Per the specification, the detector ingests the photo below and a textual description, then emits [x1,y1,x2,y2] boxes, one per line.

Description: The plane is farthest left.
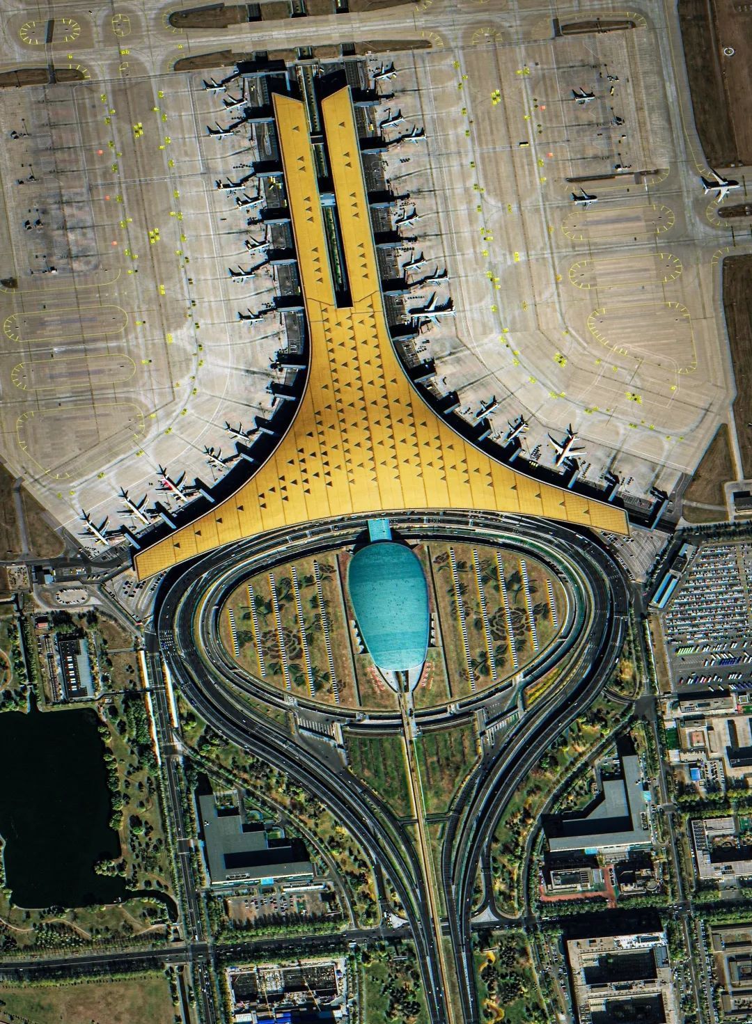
[78,515,109,546]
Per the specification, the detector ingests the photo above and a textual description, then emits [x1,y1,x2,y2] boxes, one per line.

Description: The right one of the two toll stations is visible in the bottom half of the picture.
[471,690,524,763]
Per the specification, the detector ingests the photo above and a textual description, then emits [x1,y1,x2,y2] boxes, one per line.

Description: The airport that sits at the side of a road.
[0,0,752,566]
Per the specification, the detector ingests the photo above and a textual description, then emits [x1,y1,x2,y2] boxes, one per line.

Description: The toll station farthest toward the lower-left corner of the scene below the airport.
[289,713,344,774]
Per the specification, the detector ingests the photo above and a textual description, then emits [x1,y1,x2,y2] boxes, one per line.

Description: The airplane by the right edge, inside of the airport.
[704,170,739,204]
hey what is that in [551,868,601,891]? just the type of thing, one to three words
building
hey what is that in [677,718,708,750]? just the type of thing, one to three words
building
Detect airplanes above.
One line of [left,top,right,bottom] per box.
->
[227,423,250,443]
[218,175,245,201]
[232,266,255,288]
[224,95,247,116]
[551,432,586,468]
[477,397,501,419]
[574,189,597,211]
[396,208,419,230]
[704,170,739,204]
[236,192,265,217]
[405,127,427,148]
[119,494,150,525]
[427,266,450,289]
[204,447,227,467]
[78,515,109,546]
[574,89,596,109]
[380,110,405,131]
[505,417,530,440]
[410,290,457,333]
[157,470,188,502]
[206,80,226,98]
[209,123,233,145]
[246,237,269,259]
[404,253,427,273]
